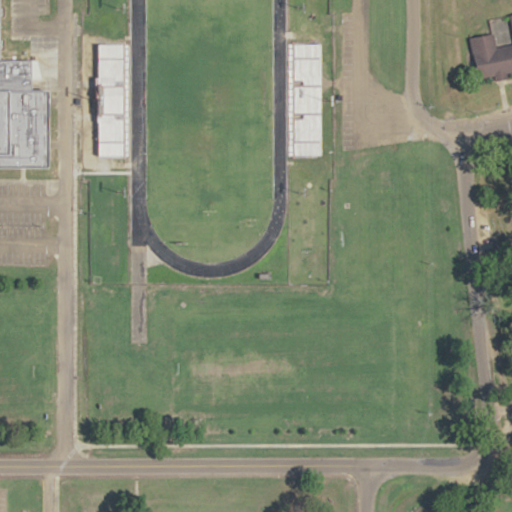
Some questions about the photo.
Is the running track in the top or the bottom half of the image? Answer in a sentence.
Seen from above, the running track lies in the top half of the view.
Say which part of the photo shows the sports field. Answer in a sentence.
You can find the sports field in the top area of the picture.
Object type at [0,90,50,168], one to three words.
building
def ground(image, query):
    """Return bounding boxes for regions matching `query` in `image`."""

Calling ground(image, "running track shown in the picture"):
[132,0,286,278]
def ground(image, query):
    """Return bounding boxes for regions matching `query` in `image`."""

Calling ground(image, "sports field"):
[147,0,274,262]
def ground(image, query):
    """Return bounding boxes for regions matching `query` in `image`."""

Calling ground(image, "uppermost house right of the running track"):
[469,15,512,79]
